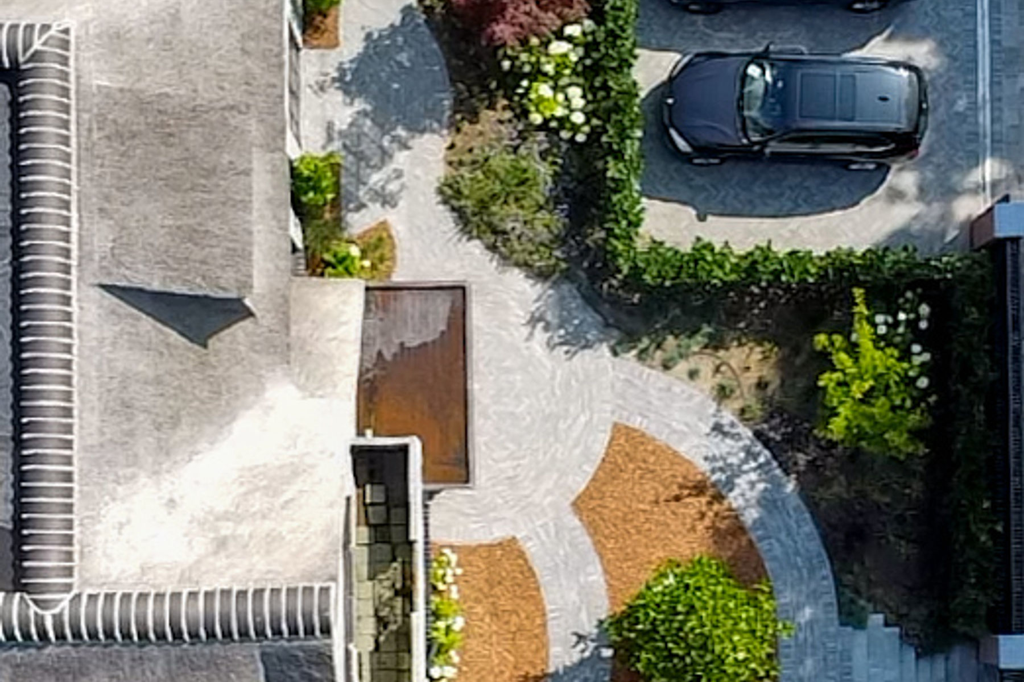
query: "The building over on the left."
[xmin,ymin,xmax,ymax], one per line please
[0,0,362,682]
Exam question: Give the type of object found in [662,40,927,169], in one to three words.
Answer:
car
